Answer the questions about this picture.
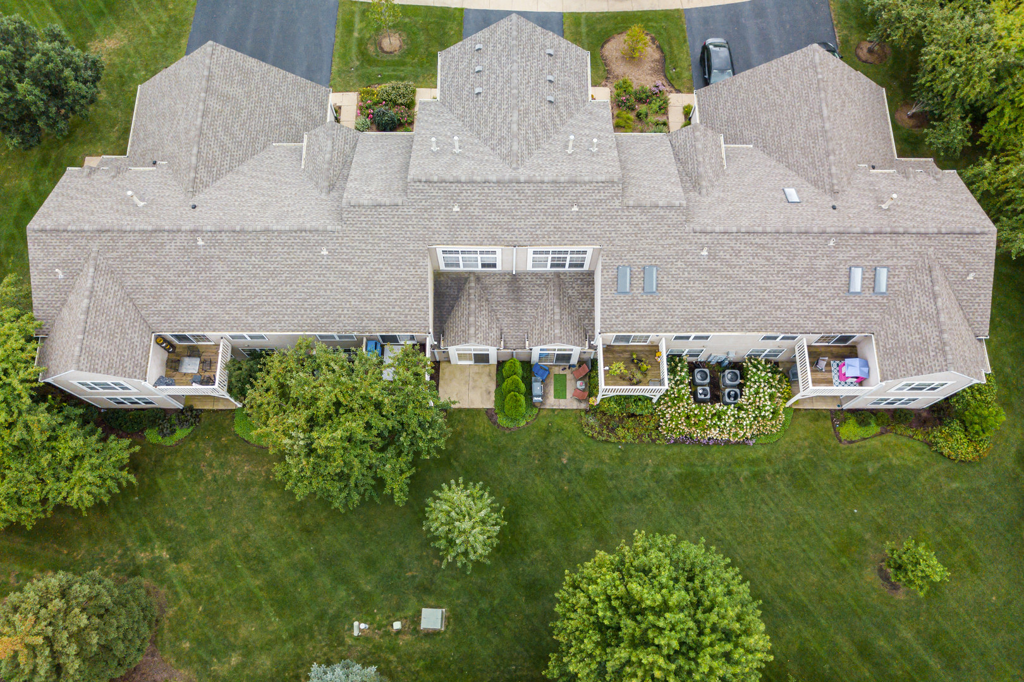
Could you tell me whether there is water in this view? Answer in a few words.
No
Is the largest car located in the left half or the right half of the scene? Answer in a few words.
right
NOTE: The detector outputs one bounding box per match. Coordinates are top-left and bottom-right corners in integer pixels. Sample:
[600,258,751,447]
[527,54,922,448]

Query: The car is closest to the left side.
[699,38,735,86]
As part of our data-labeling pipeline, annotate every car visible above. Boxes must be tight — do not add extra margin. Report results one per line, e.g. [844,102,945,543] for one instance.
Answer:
[802,40,836,57]
[699,38,735,86]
